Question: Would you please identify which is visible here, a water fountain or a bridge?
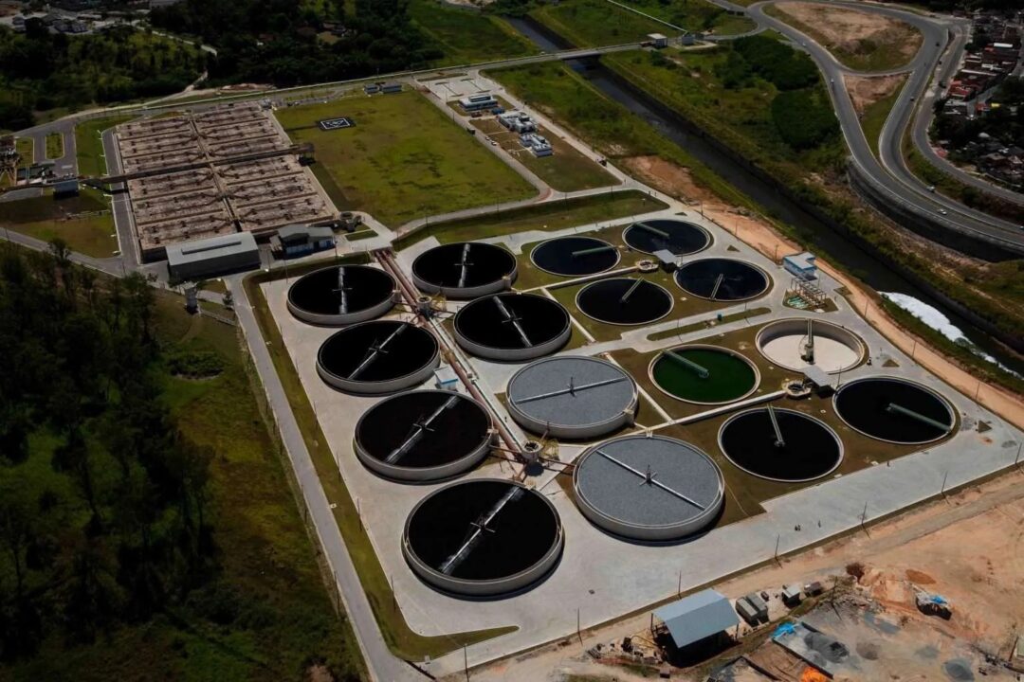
bridge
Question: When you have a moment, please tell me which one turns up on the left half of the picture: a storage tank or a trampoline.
storage tank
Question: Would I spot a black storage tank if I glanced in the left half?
Yes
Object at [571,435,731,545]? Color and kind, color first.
gray storage tank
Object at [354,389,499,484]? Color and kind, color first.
black storage tank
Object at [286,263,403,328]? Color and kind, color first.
black storage tank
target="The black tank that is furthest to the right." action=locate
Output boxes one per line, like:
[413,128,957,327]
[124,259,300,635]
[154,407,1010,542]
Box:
[832,377,958,447]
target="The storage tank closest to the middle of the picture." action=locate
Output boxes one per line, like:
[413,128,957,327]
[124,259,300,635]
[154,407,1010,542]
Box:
[453,291,574,363]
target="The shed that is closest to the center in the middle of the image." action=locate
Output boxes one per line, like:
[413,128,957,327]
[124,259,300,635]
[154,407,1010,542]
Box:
[433,366,459,391]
